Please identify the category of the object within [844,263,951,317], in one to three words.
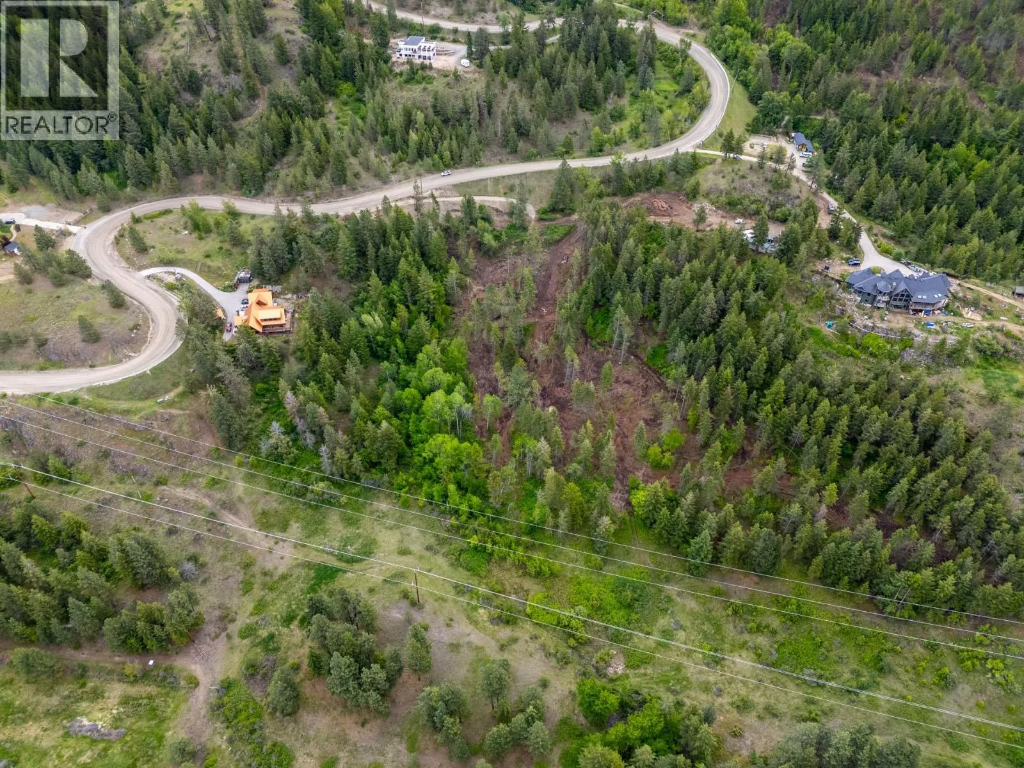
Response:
house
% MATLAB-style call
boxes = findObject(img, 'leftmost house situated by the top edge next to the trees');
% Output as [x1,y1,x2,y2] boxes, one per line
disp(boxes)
[398,36,436,62]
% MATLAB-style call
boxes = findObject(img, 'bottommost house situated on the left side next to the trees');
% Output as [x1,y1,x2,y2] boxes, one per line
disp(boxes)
[234,285,292,338]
